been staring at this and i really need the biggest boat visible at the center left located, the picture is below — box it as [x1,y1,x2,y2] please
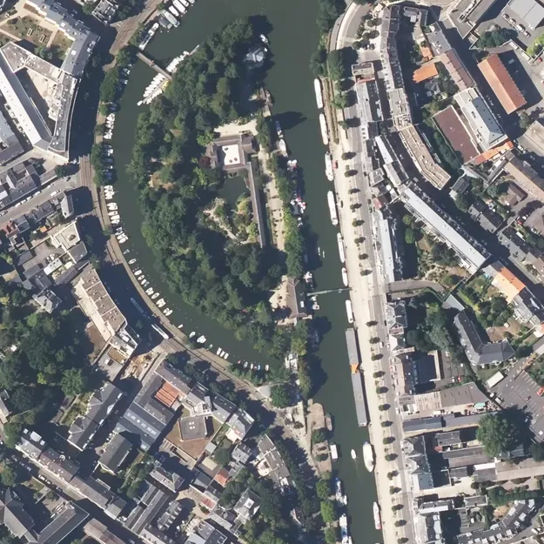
[115,271,146,309]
